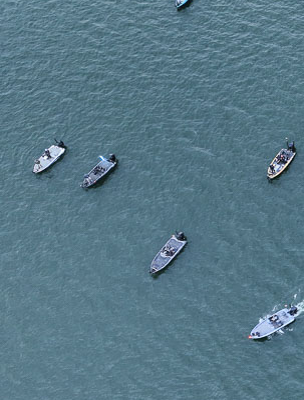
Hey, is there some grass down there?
No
